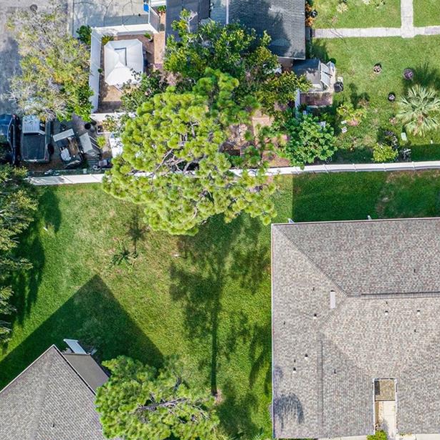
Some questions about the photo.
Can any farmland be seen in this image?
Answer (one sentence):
No, farmland can't be seen anywhere here.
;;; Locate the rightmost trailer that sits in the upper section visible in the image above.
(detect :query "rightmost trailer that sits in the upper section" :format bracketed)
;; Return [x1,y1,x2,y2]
[47,121,79,168]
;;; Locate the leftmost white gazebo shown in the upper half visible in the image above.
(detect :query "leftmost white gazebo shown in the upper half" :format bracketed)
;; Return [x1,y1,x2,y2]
[96,38,148,90]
